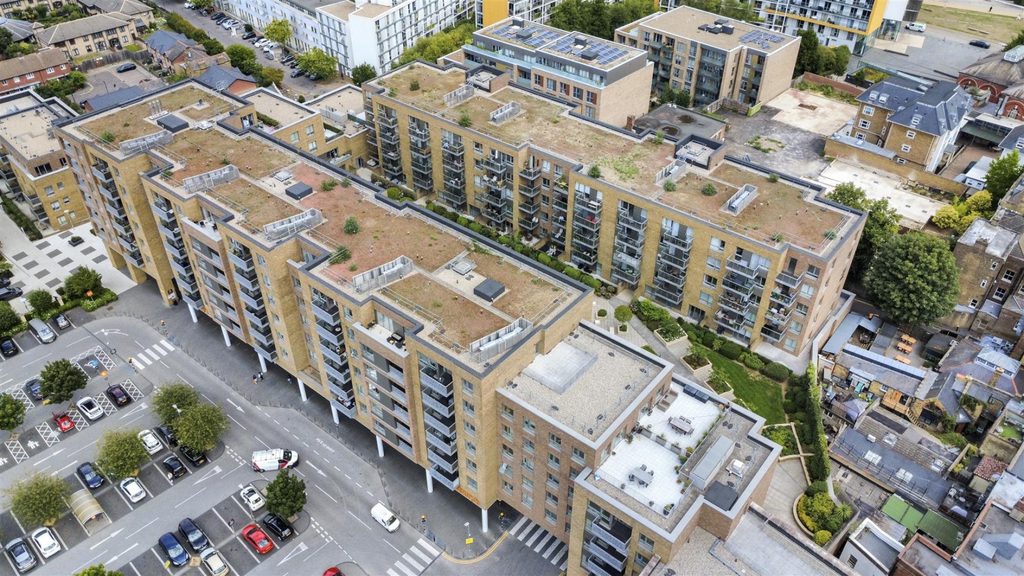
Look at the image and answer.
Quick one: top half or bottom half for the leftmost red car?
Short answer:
bottom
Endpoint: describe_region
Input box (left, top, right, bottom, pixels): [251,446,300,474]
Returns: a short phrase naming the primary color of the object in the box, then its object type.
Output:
white van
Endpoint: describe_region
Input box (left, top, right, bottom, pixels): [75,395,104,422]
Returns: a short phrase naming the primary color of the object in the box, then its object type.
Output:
white car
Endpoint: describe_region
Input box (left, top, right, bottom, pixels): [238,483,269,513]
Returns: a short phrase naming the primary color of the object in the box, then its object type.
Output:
white car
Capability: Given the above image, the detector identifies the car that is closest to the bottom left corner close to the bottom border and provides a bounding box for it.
[4,537,38,574]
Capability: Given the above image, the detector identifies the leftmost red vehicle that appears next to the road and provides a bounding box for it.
[50,409,77,434]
